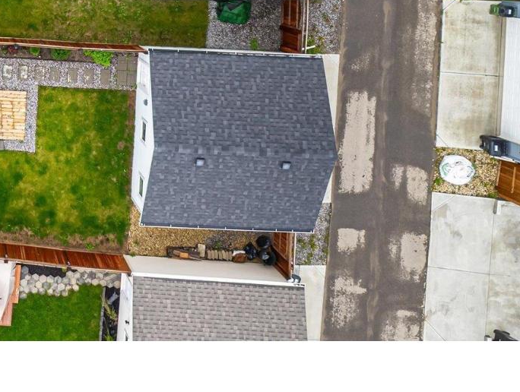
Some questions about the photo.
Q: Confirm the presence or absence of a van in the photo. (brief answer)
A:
No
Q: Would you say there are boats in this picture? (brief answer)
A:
No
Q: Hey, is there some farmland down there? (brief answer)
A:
No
